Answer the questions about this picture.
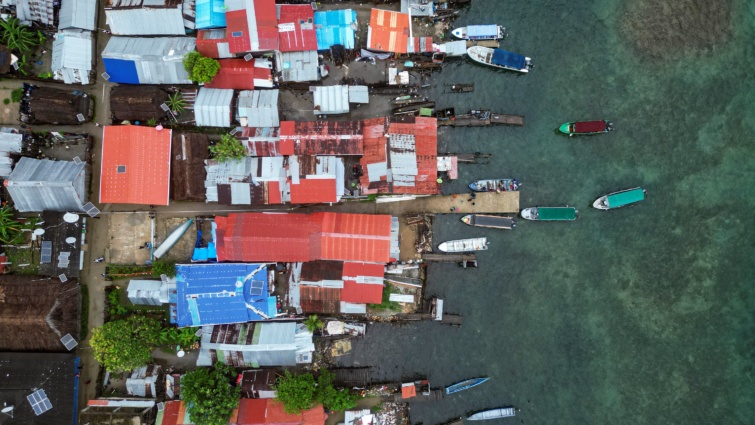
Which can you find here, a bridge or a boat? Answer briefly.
boat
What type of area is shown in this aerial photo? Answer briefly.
residential area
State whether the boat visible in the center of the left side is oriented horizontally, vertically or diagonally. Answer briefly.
diagonally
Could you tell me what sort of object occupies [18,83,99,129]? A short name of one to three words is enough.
house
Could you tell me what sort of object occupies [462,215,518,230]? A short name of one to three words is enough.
boat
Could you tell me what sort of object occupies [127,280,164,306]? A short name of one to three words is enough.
house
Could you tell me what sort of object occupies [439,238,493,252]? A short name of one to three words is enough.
boat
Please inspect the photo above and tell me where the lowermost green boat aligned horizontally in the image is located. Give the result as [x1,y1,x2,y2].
[521,206,581,221]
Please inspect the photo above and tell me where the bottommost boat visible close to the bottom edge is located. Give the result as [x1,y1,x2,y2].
[467,409,520,422]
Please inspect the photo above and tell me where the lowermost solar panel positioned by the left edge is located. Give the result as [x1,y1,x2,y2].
[27,390,52,415]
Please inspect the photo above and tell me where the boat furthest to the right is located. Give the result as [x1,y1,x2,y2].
[594,184,650,207]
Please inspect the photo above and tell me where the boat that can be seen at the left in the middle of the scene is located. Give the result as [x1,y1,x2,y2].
[150,219,192,260]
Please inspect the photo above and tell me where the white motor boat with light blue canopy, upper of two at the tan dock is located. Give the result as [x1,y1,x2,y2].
[451,21,507,38]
